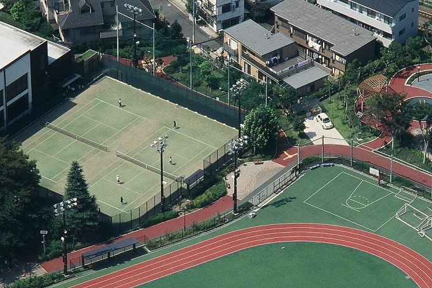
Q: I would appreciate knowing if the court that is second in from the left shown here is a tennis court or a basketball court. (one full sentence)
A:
The court that is second in from the left can be classified as a tennis court.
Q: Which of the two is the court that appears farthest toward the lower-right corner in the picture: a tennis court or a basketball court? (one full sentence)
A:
I'd identify the court that appears farthest toward the lower-right corner as a basketball court.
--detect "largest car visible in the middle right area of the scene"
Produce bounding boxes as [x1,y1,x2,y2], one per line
[315,112,334,129]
